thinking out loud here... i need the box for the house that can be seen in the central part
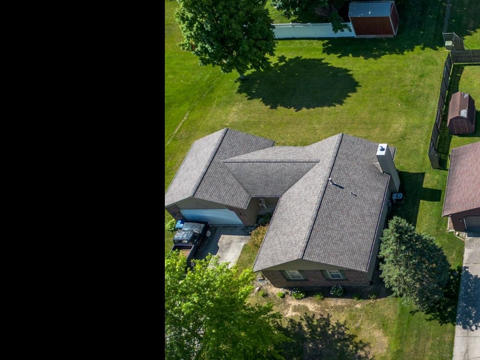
[153,128,400,287]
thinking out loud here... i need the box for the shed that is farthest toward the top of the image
[348,2,397,36]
